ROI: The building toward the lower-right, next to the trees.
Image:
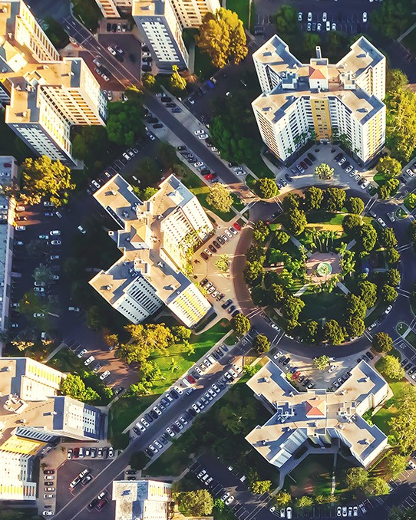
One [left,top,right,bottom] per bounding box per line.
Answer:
[244,361,388,467]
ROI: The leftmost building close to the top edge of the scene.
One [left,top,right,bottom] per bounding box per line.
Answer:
[0,1,107,161]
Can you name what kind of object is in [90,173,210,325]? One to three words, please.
building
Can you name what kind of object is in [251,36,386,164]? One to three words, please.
building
